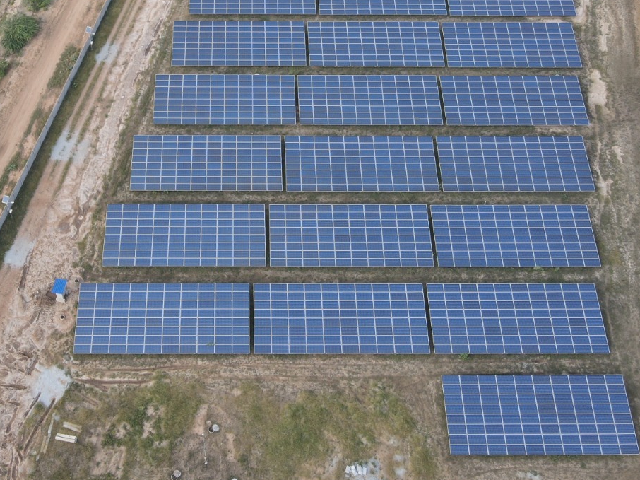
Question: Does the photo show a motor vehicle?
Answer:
No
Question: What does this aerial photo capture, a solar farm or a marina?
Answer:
solar farm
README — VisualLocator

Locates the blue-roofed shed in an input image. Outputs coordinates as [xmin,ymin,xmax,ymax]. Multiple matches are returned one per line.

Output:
[51,277,68,306]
